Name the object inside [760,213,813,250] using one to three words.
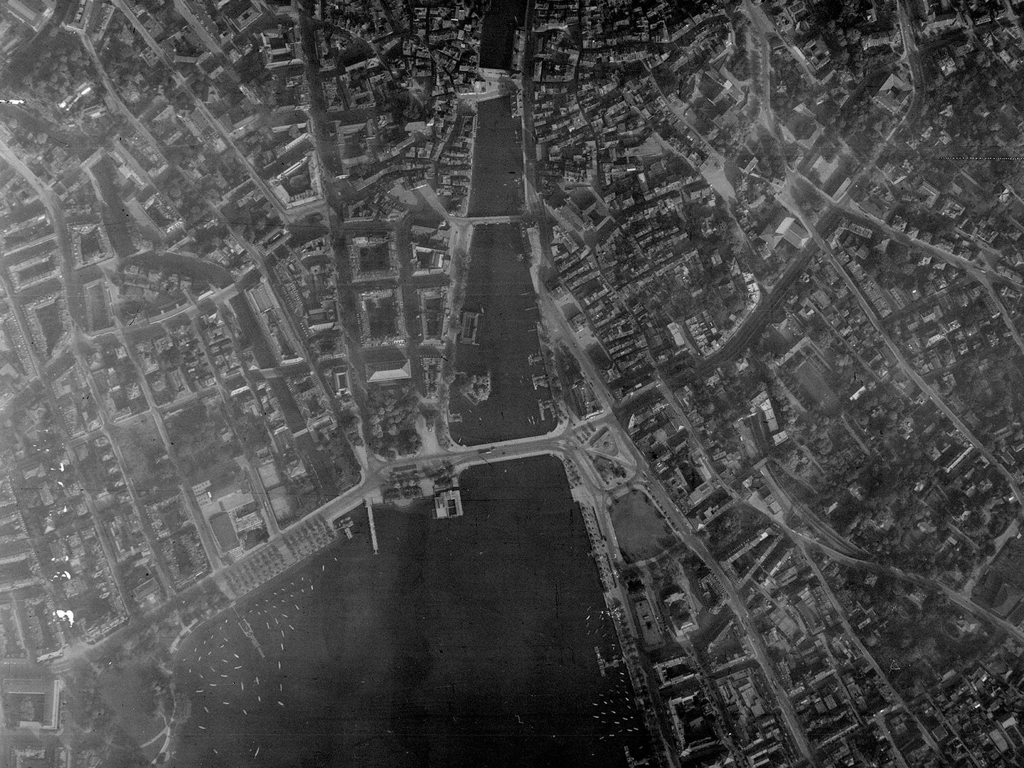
building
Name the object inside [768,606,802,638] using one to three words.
building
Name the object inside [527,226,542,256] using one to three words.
house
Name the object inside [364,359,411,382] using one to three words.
house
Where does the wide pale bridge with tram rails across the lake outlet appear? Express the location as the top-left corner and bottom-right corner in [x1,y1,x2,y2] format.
[460,434,555,466]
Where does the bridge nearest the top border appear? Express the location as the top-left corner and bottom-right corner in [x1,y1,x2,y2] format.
[476,68,525,102]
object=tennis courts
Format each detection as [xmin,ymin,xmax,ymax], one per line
[259,464,279,487]
[268,487,290,513]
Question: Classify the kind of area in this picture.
residential area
